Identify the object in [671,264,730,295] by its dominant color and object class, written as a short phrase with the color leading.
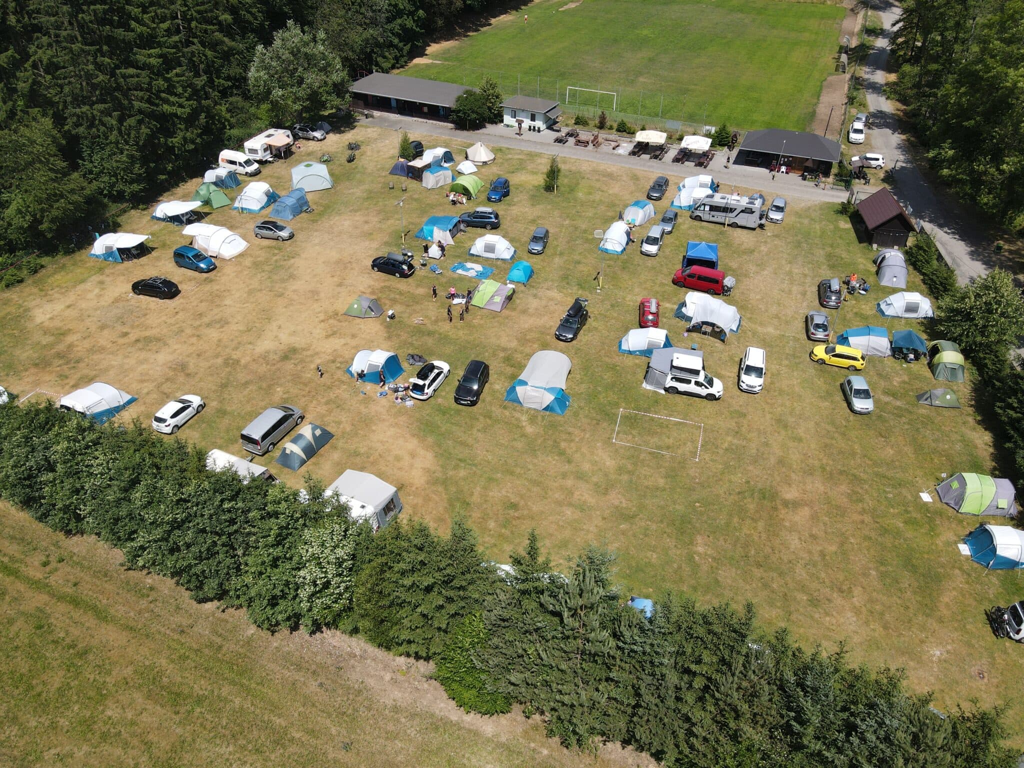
red van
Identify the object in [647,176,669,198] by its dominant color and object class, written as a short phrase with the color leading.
gray car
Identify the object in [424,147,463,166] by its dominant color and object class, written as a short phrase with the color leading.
white tent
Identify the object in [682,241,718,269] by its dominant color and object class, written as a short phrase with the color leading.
blue gazebo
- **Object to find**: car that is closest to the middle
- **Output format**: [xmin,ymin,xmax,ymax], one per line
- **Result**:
[455,354,493,402]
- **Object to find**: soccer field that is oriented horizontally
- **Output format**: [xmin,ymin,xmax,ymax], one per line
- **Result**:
[407,0,846,132]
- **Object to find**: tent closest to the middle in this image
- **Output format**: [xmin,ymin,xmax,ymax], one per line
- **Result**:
[506,350,584,414]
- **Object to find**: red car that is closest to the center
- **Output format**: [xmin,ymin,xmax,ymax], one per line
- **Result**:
[636,295,660,325]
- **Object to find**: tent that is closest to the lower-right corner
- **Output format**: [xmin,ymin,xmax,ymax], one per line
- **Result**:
[962,518,1024,582]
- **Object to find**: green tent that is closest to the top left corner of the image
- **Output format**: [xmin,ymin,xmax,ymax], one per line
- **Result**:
[188,181,232,211]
